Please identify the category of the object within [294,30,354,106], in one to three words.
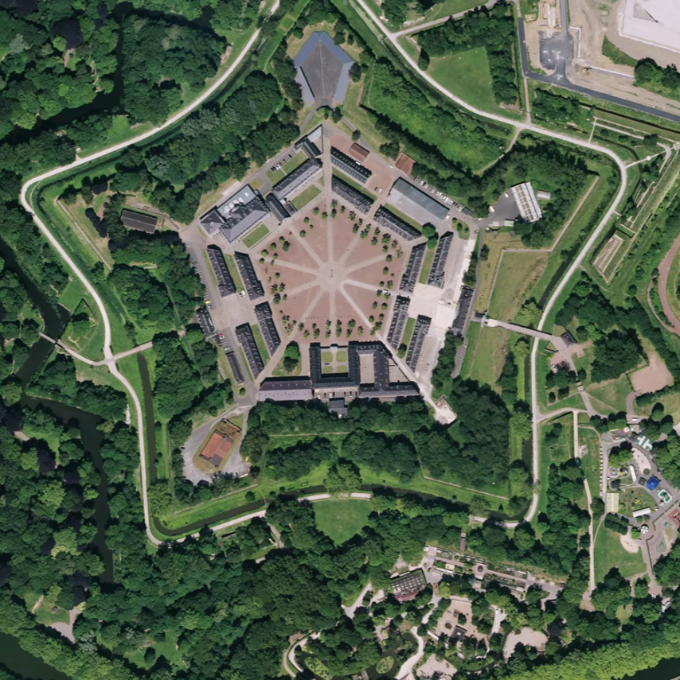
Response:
building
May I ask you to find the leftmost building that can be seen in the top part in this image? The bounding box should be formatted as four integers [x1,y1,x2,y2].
[119,208,159,232]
